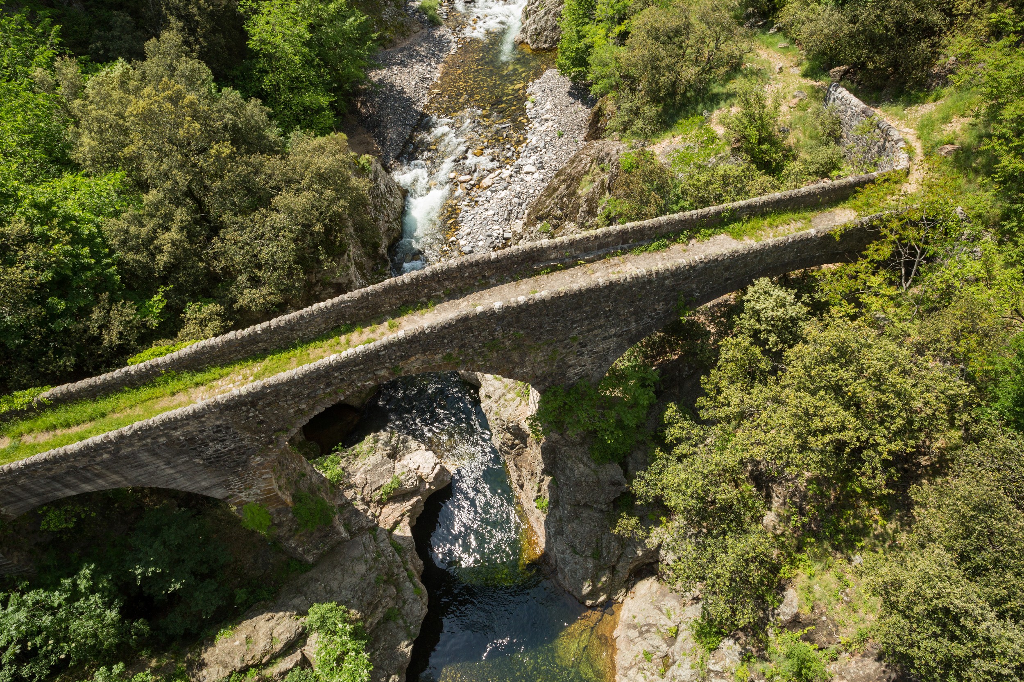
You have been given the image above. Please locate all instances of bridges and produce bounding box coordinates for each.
[0,169,941,568]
